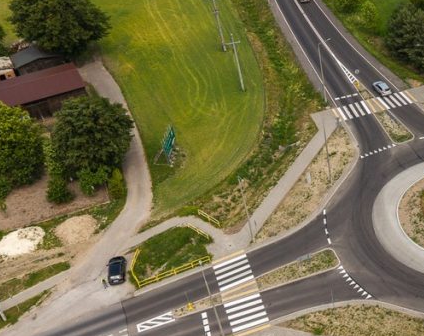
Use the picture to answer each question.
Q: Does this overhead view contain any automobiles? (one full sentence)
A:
Yes, there is an automobile in the image.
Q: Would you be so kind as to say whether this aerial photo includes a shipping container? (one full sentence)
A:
No, this view has no shipping container in it.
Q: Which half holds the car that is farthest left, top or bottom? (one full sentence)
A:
Seen from above, the car that is farthest left lies in the bottom half of the view.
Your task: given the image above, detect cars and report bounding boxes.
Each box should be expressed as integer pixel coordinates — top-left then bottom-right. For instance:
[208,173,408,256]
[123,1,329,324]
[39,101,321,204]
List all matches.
[103,250,125,282]
[371,77,391,95]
